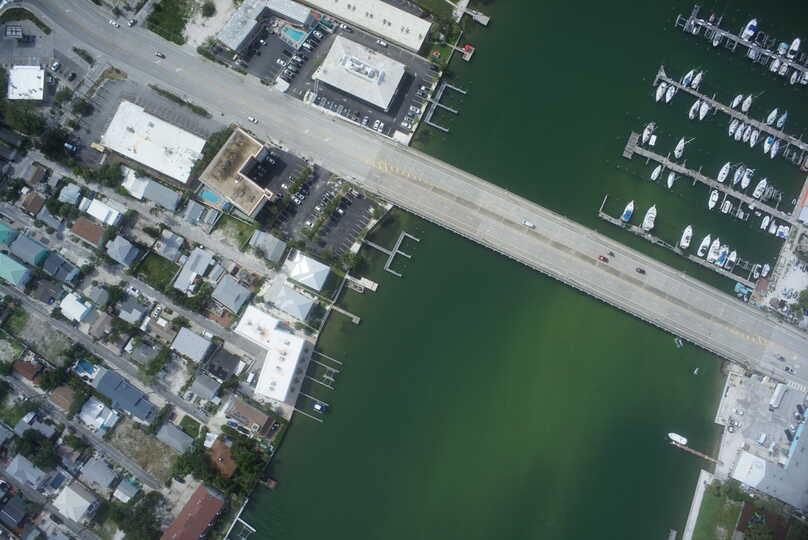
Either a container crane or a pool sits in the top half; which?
pool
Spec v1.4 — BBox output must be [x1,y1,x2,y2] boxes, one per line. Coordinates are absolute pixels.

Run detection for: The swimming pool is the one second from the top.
[194,182,235,216]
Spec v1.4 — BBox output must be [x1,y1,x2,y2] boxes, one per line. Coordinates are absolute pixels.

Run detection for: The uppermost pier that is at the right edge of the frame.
[675,3,808,72]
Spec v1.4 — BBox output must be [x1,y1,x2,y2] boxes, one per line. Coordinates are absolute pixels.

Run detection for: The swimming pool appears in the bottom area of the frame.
[72,361,98,384]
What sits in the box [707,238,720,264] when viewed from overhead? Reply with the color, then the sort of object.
white boat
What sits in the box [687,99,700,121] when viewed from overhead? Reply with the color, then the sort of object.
white boat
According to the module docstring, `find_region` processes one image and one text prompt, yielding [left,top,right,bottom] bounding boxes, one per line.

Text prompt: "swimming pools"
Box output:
[279,22,311,48]
[72,361,98,384]
[194,182,235,216]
